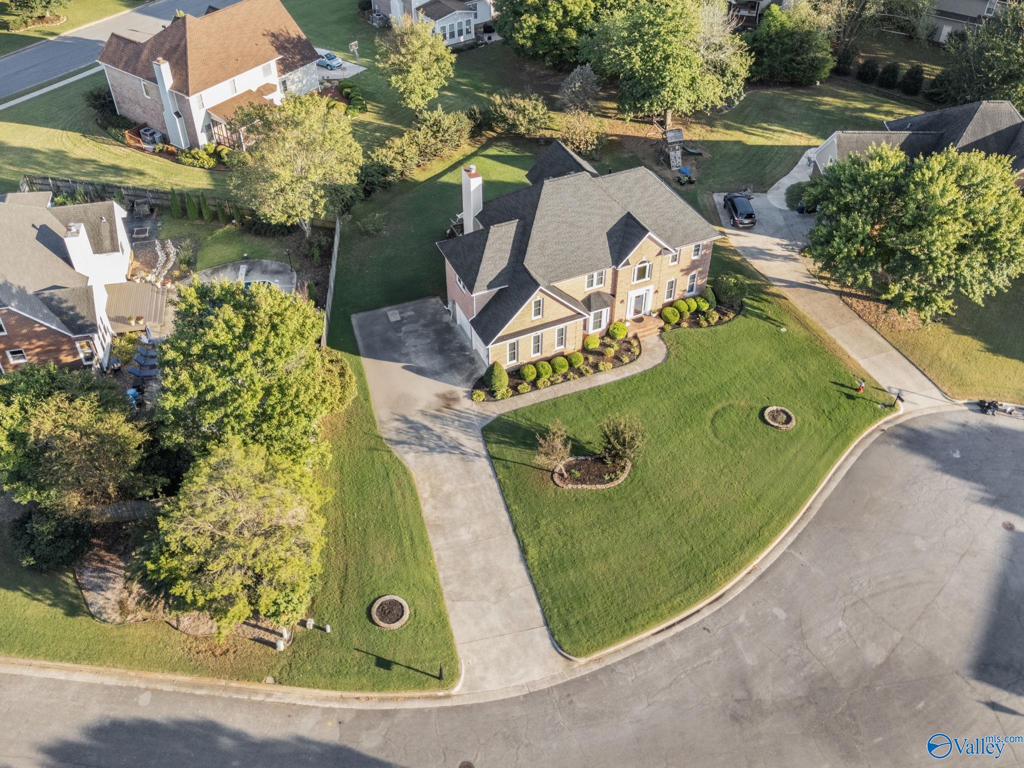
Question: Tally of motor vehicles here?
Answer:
2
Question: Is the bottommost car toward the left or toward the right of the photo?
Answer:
right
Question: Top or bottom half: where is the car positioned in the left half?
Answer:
top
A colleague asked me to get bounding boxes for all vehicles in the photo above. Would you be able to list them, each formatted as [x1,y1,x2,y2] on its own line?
[720,190,757,227]
[315,46,345,70]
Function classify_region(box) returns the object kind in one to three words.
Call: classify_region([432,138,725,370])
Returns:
house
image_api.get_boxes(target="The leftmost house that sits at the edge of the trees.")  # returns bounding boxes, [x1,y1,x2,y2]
[0,193,133,375]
